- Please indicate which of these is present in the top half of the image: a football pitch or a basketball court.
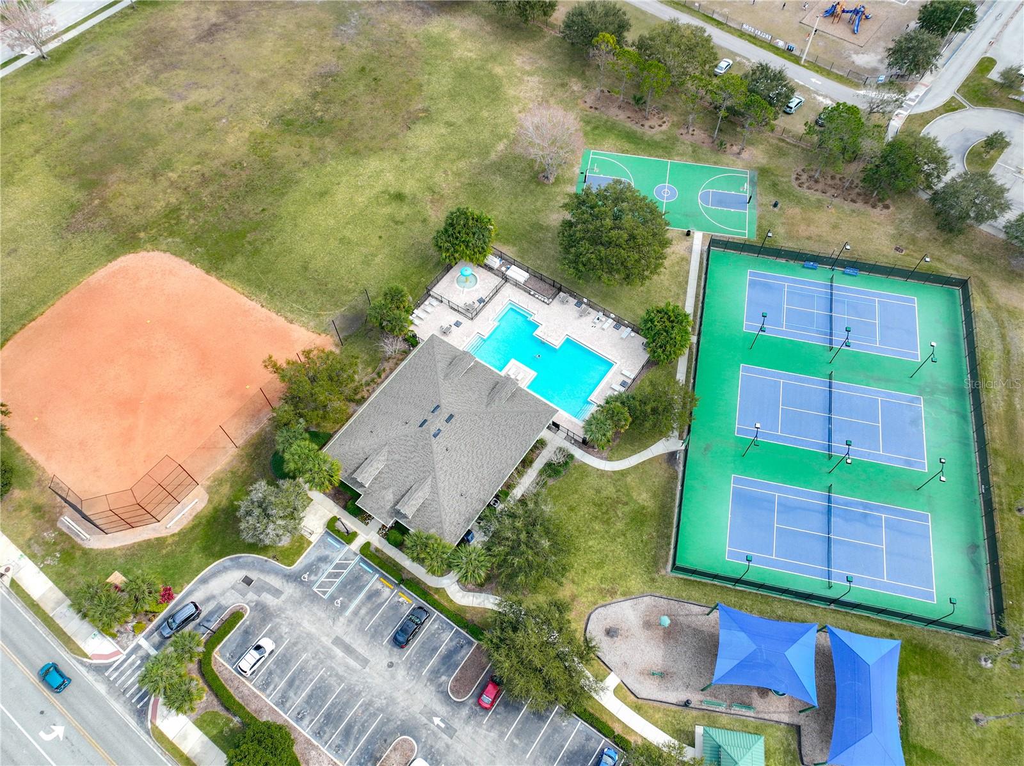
basketball court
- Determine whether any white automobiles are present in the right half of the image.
Yes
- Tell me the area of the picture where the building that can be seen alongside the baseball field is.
center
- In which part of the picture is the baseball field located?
left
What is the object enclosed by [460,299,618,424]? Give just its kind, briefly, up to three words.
swimming pool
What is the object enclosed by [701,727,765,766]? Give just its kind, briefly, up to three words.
building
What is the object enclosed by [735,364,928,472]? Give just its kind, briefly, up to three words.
tennis court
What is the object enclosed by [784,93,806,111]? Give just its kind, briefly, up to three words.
car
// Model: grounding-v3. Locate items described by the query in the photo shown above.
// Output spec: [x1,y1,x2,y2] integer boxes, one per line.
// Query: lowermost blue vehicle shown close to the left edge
[35,660,70,697]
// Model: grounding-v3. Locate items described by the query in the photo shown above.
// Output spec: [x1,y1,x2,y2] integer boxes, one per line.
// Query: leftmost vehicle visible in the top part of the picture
[713,56,735,73]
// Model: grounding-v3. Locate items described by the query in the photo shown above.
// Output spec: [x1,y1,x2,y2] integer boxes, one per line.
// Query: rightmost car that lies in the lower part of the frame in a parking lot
[595,743,620,766]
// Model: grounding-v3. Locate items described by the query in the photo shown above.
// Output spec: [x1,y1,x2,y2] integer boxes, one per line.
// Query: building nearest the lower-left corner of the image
[321,334,558,551]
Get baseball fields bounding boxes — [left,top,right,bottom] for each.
[0,251,341,548]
